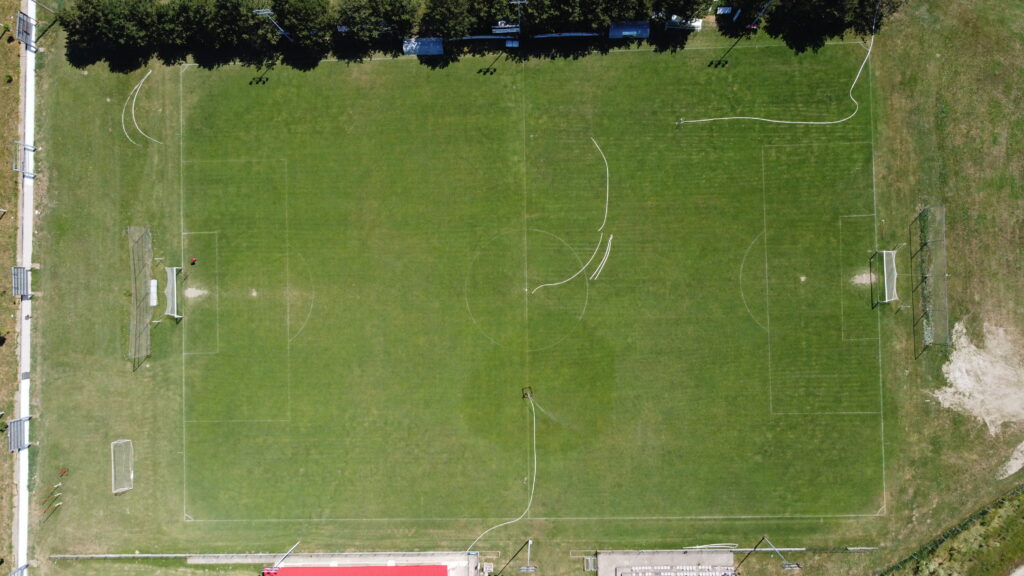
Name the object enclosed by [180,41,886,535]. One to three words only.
soccer field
